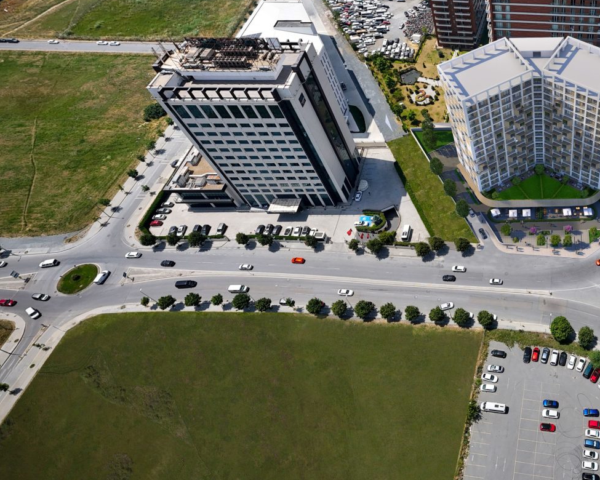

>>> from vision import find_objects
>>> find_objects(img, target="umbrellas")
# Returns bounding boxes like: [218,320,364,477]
[522,210,532,217]
[583,208,593,216]
[490,209,501,217]
[508,210,518,218]
[562,209,572,216]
